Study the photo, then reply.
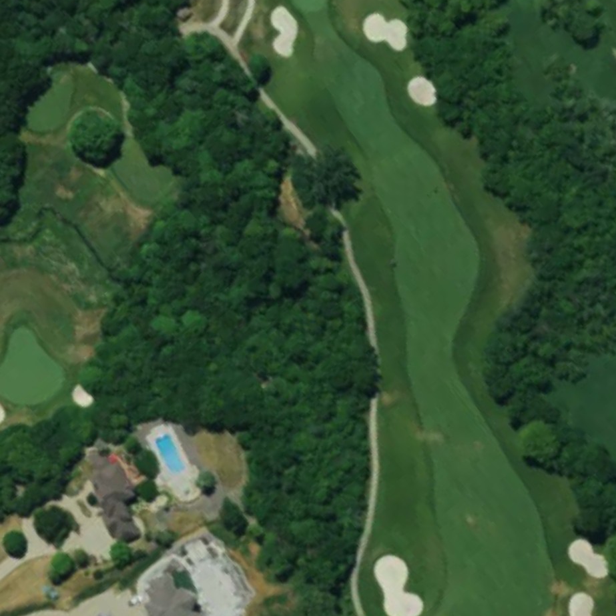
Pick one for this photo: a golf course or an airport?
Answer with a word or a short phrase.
golf course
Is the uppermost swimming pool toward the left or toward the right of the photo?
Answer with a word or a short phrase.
left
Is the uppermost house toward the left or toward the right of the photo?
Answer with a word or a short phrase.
left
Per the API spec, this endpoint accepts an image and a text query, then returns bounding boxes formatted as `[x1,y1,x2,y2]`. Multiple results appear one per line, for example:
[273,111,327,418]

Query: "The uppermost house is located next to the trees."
[87,448,144,545]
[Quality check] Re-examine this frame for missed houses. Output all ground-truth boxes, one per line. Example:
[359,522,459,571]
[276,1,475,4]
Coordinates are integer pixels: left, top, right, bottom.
[87,448,144,545]
[138,571,205,616]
